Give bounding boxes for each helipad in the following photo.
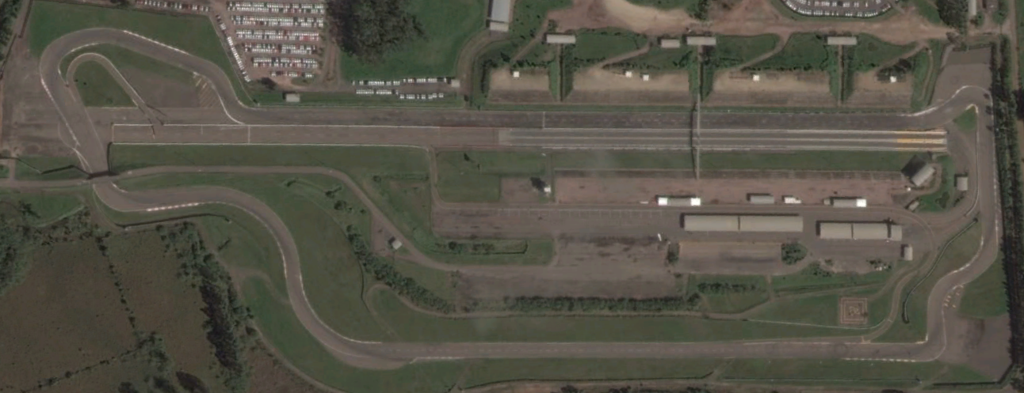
[840,298,868,325]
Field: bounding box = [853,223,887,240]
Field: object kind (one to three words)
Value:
building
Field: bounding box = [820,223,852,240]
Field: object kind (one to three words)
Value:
building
